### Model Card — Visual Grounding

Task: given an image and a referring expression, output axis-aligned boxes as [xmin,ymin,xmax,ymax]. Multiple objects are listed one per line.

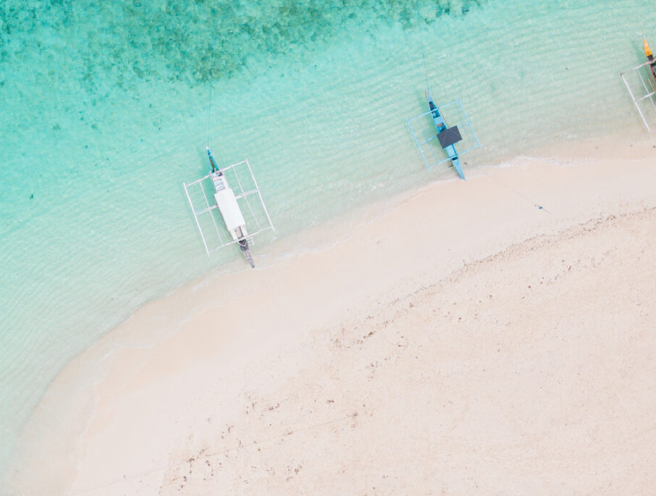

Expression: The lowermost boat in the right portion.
[407,86,481,182]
